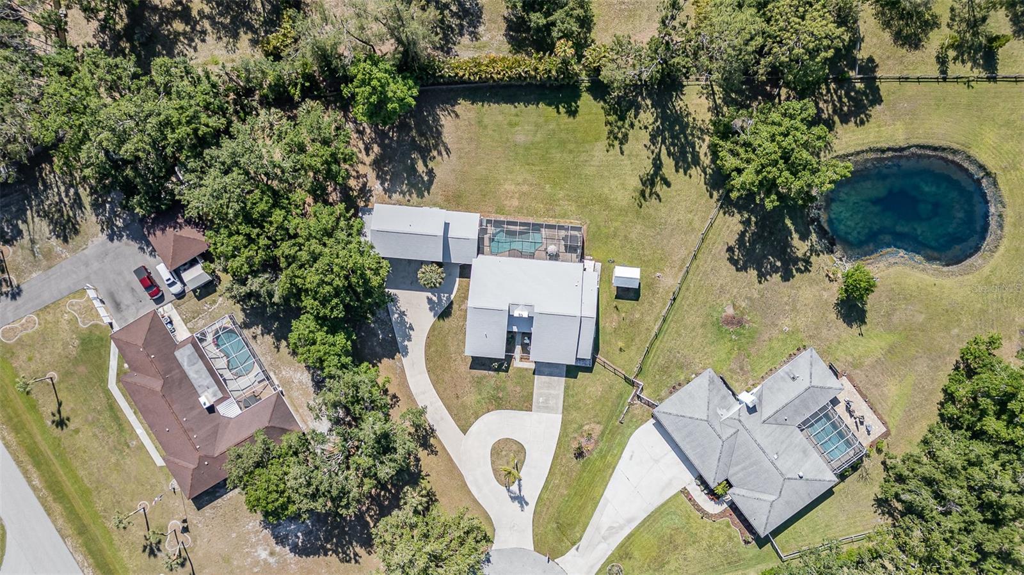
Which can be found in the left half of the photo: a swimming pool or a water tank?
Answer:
swimming pool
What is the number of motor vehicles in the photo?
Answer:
2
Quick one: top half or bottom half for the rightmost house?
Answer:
bottom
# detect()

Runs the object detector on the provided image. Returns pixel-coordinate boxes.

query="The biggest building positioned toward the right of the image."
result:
[652,347,844,537]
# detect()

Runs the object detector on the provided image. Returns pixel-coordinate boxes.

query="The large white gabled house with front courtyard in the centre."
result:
[465,255,597,367]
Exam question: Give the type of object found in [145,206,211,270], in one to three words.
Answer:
building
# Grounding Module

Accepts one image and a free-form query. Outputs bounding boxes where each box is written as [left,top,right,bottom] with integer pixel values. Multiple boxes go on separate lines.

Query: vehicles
[133,264,164,301]
[154,263,185,296]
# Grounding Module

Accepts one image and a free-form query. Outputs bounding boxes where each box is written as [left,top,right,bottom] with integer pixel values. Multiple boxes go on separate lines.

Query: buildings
[369,204,480,264]
[613,266,642,288]
[465,255,597,367]
[182,264,213,290]
[110,309,305,499]
[145,206,211,270]
[652,347,844,537]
